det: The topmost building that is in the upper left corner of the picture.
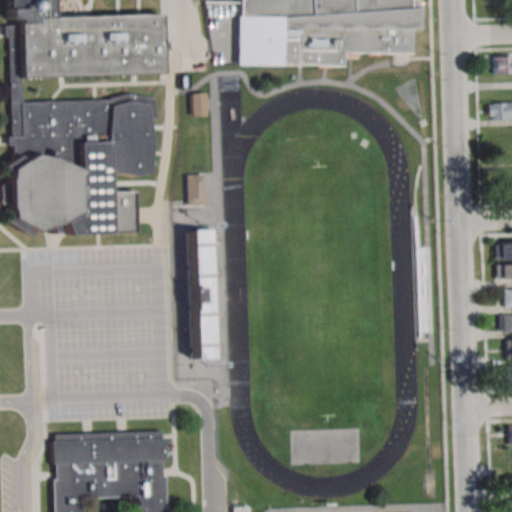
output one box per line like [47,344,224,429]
[6,0,168,80]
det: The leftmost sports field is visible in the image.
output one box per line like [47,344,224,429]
[244,106,396,477]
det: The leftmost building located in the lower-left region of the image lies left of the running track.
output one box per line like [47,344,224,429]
[48,431,174,512]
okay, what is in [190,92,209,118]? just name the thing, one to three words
shed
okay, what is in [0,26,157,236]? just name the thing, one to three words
building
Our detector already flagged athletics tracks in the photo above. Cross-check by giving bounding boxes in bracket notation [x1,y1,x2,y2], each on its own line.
[220,76,416,498]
